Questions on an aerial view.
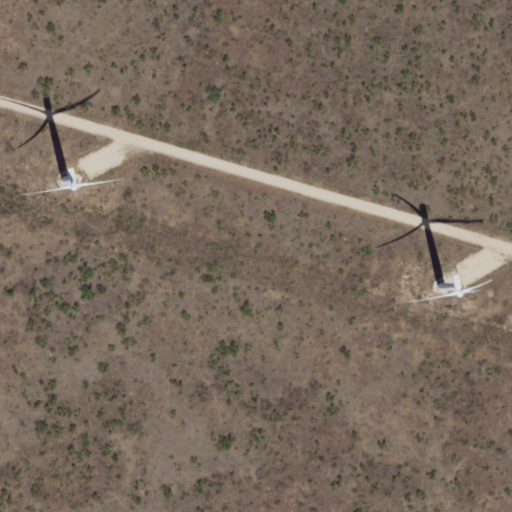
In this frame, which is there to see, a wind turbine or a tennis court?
wind turbine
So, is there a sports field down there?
No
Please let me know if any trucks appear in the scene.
No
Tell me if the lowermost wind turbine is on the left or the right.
right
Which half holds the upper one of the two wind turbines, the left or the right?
left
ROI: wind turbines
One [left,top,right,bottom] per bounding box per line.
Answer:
[28,168,126,192]
[406,276,506,306]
